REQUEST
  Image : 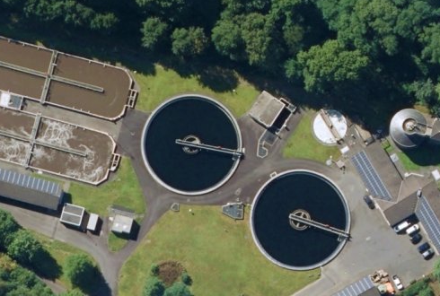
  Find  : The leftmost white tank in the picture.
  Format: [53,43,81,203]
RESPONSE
[312,108,347,146]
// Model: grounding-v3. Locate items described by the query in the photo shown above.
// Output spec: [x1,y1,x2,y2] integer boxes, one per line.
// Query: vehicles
[363,195,376,209]
[405,224,420,236]
[409,233,424,244]
[392,275,404,291]
[421,248,436,259]
[393,220,411,233]
[417,241,432,252]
